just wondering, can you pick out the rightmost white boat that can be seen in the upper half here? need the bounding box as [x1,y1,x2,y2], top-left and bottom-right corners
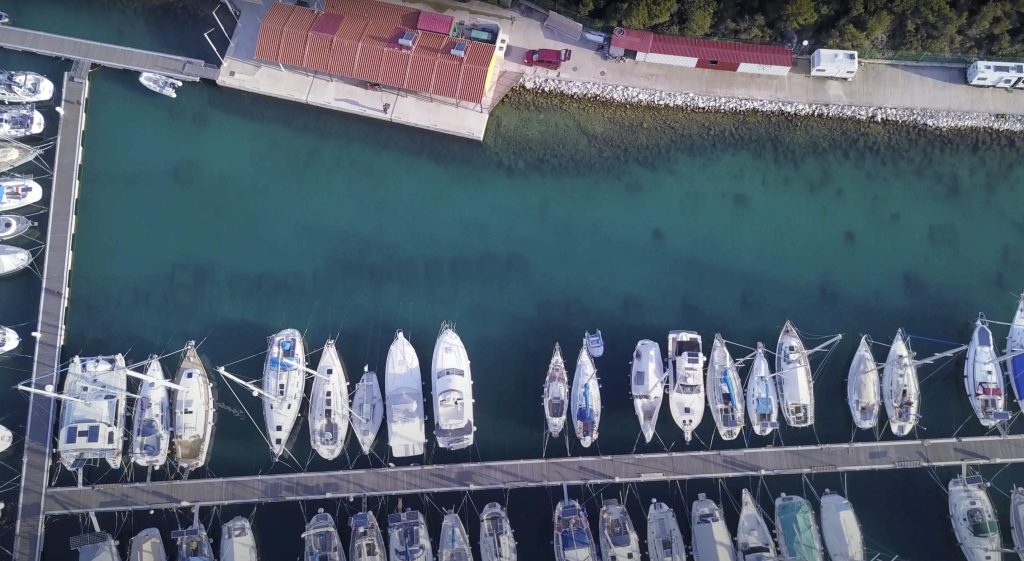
[138,71,186,101]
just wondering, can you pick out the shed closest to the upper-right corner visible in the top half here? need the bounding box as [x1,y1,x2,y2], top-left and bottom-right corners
[608,27,793,77]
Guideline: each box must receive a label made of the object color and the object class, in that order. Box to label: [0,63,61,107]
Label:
white boat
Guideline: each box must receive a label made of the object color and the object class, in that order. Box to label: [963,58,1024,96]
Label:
white camper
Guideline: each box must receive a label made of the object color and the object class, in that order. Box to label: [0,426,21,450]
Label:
white boat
